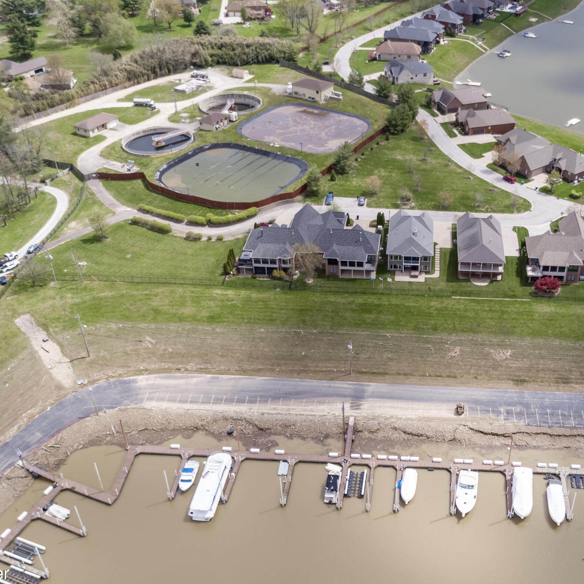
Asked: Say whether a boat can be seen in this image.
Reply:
Yes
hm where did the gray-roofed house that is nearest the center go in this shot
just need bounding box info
[238,206,382,276]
